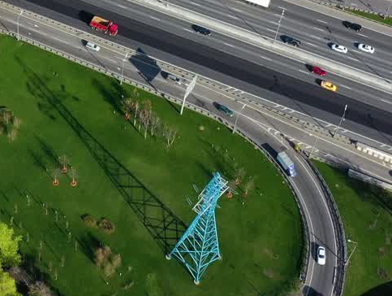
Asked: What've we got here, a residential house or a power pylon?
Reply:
power pylon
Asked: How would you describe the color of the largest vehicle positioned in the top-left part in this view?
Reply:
red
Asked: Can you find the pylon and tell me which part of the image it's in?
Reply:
bottom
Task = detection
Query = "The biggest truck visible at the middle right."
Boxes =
[275,149,298,180]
